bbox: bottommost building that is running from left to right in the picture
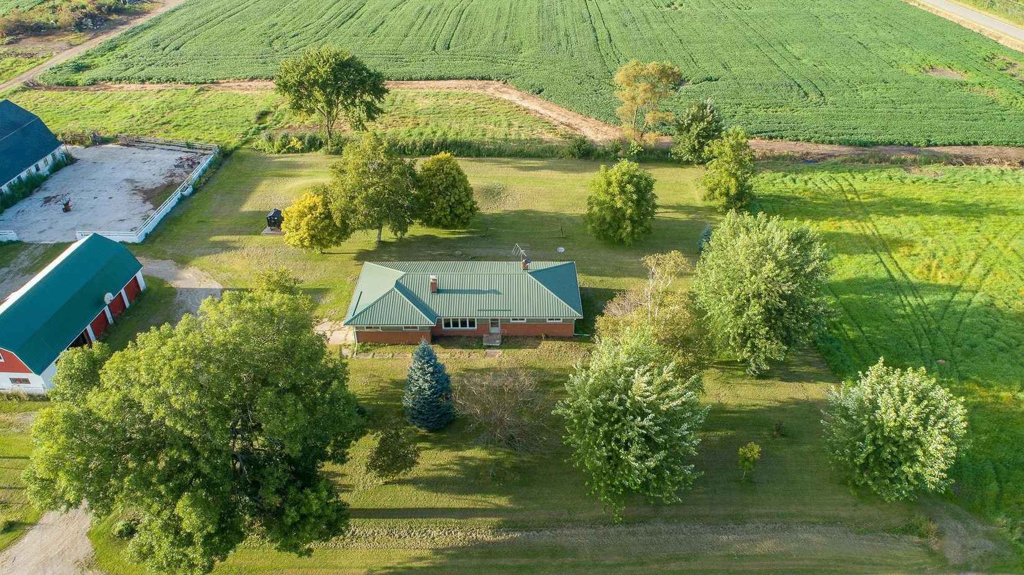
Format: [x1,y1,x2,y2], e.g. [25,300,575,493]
[344,258,594,354]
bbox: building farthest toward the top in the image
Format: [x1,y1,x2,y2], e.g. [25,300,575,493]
[0,97,68,210]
